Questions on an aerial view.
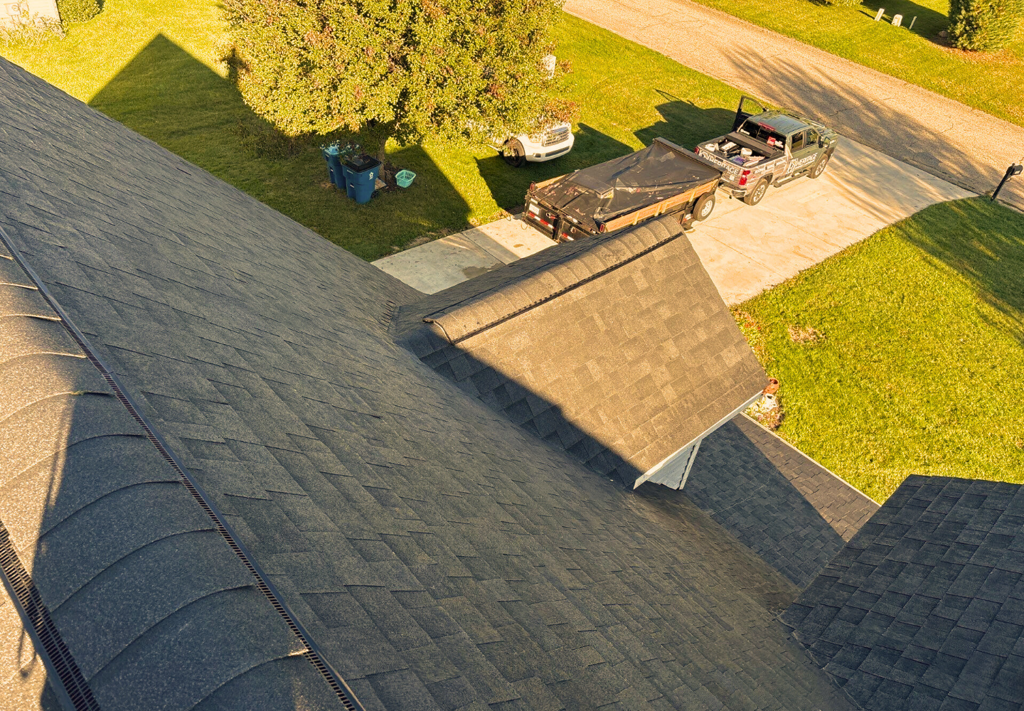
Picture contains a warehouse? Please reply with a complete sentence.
No, no warehouse is visible in the view.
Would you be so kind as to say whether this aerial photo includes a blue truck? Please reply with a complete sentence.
No, I can't see a single blue truck in this photo.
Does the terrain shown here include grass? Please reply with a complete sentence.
Yes, there is grass in the image.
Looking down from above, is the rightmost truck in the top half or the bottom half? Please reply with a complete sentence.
The rightmost truck is in the top half of the image.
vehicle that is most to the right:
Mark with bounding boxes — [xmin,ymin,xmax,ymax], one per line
[696,102,839,200]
